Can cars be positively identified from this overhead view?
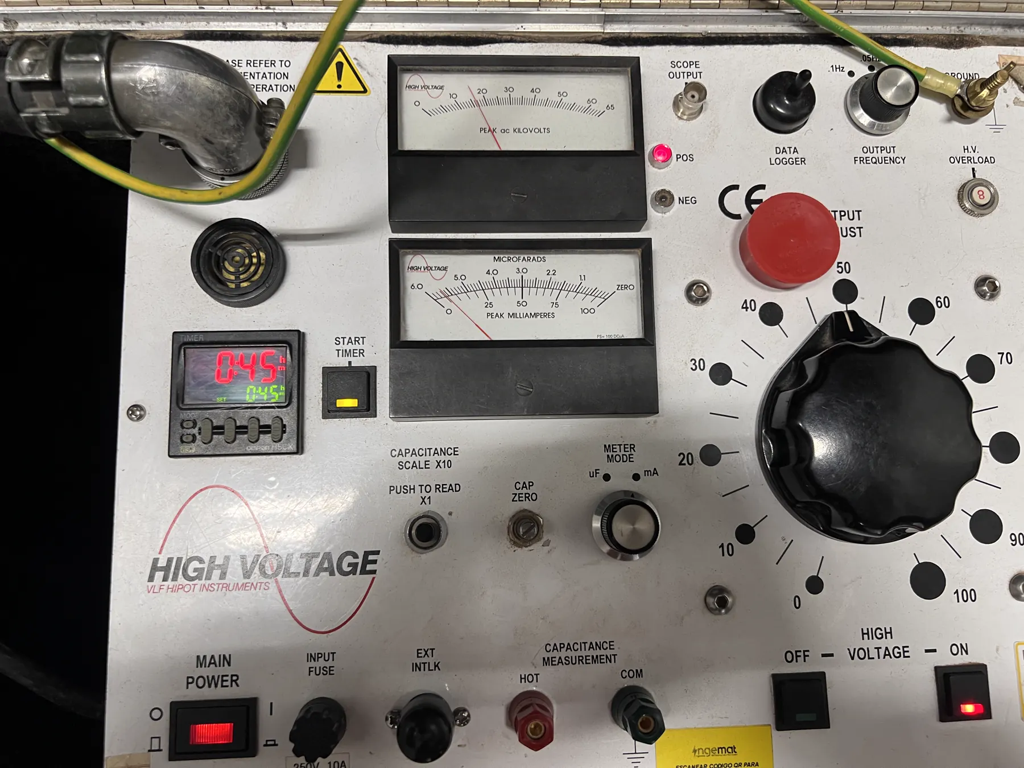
No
